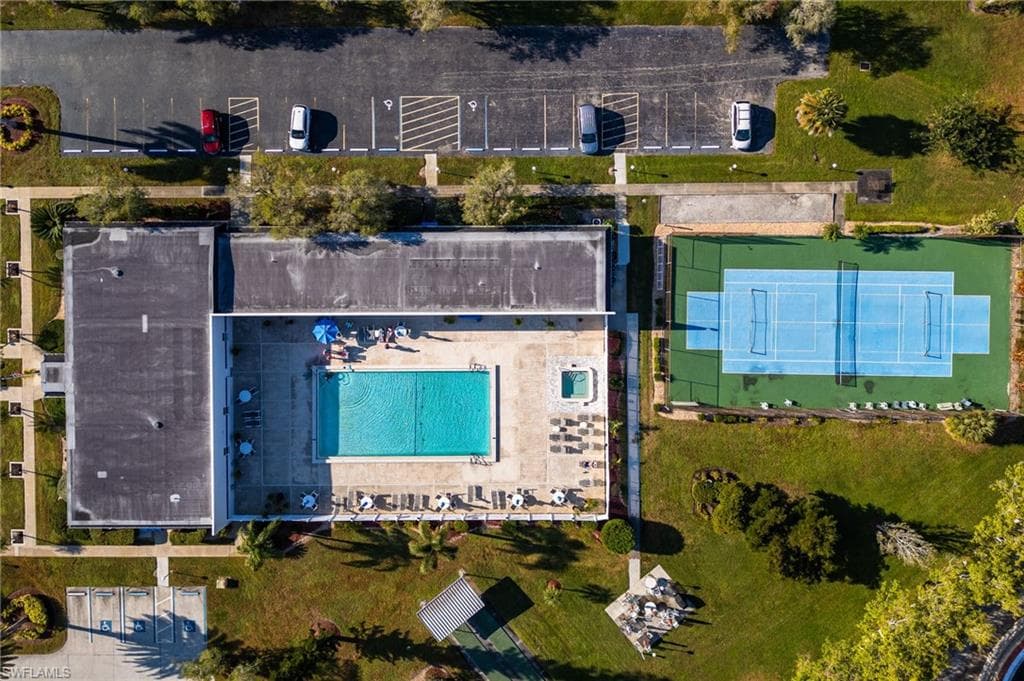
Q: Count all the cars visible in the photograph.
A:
4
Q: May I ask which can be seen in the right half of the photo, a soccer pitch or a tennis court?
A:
tennis court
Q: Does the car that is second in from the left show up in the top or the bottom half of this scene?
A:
top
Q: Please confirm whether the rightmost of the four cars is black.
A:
No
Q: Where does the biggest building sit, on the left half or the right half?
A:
left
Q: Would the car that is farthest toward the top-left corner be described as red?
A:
Yes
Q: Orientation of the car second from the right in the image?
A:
from top to bottom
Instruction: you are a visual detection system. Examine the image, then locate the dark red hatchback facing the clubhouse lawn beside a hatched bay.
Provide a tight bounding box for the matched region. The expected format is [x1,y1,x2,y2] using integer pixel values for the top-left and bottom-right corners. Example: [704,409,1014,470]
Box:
[197,109,222,154]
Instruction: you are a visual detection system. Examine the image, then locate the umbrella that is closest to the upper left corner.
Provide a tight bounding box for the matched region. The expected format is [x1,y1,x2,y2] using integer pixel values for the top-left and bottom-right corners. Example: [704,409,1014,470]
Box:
[313,317,341,344]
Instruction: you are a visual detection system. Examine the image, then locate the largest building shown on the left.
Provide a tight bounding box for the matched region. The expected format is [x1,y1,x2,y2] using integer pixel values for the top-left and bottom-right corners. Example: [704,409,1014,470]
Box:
[41,220,616,536]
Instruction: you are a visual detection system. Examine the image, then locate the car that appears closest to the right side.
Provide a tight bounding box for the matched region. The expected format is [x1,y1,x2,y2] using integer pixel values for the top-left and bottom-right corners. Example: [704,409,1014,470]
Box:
[730,101,754,150]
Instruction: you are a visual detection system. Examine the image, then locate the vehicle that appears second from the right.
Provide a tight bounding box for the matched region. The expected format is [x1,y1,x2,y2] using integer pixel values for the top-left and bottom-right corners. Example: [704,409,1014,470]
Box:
[577,103,600,155]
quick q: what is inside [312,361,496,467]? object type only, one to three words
swimming pool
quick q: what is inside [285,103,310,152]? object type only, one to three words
car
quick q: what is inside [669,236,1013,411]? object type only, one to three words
tennis court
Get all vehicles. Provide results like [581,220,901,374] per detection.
[285,103,310,152]
[577,103,600,155]
[730,101,754,150]
[197,109,222,154]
